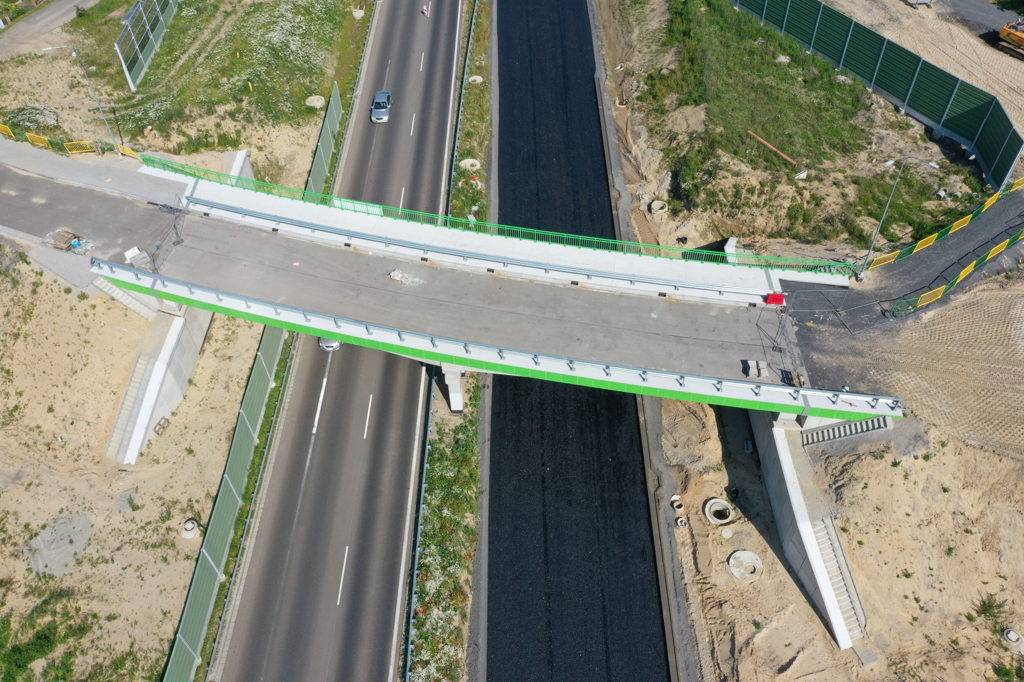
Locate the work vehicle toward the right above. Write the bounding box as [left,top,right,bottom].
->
[997,17,1024,60]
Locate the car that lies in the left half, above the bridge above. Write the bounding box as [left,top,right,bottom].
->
[368,88,390,119]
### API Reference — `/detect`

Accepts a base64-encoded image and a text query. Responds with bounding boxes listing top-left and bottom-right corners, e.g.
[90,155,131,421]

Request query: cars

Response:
[368,88,390,119]
[320,338,345,354]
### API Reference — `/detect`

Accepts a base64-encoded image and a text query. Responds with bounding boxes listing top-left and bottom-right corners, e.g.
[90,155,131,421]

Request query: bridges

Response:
[85,154,909,461]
